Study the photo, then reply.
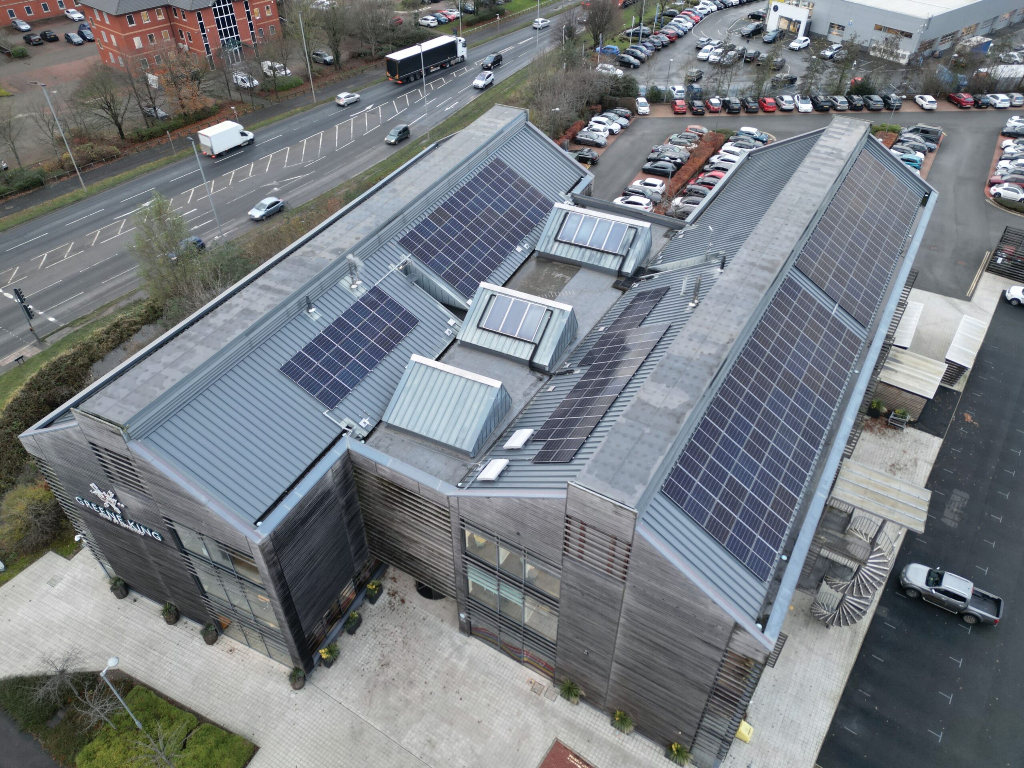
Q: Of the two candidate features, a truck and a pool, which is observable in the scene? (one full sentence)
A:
The one in the frame is a truck.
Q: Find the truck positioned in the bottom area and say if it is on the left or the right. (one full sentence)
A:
It is on the right.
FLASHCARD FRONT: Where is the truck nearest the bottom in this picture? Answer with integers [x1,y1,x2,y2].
[901,571,1007,642]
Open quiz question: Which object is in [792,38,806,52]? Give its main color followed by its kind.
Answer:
white car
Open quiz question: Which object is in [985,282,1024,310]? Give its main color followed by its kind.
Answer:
white car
